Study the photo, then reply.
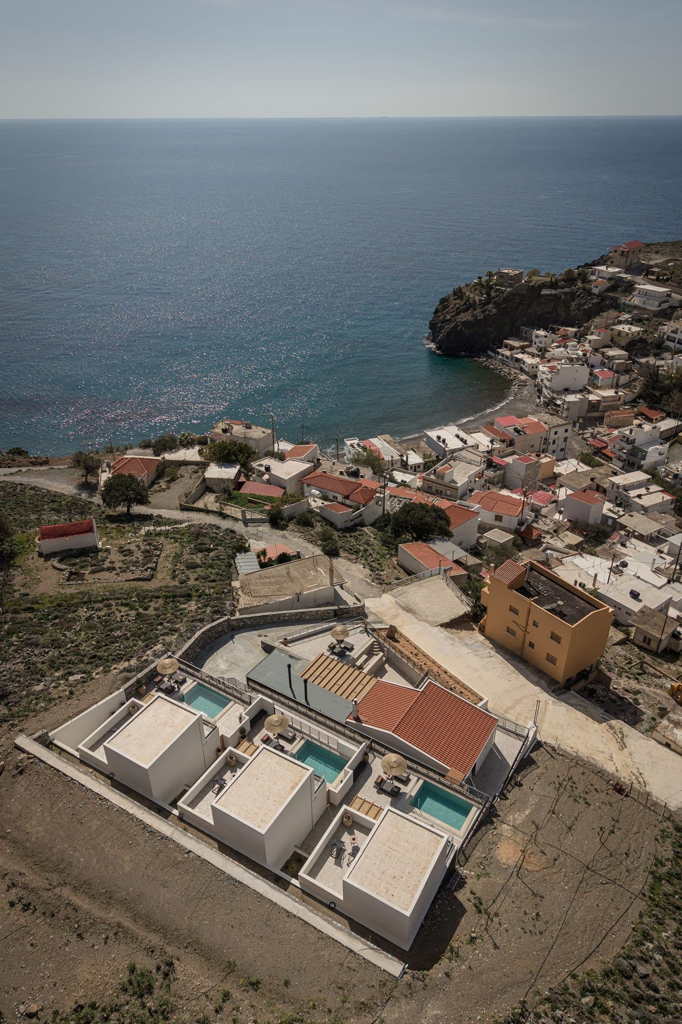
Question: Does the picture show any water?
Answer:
Yes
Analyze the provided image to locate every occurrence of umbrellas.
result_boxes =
[378,754,405,783]
[329,627,349,647]
[154,658,178,682]
[264,713,290,740]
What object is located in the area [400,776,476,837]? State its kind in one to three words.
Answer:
swimming pool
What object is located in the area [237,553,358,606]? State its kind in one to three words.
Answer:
building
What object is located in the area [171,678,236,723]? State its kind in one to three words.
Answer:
swimming pool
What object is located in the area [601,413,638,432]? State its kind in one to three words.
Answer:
house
